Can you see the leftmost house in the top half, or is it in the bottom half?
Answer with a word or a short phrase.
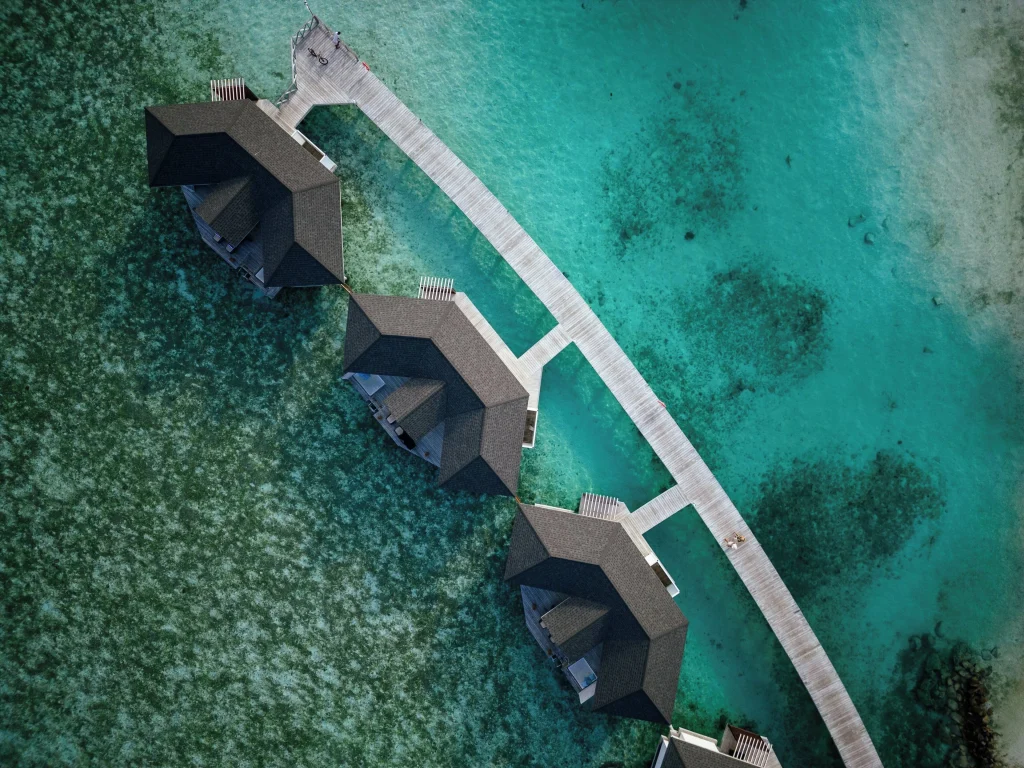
top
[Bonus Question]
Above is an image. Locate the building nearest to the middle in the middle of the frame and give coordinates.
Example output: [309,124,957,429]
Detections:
[340,275,541,498]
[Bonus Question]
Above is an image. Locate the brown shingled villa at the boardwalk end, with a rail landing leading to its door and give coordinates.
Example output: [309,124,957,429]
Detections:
[144,80,346,301]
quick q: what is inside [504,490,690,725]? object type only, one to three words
house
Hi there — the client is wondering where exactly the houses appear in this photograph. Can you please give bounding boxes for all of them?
[648,720,781,768]
[144,80,346,301]
[340,275,541,498]
[504,490,690,725]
